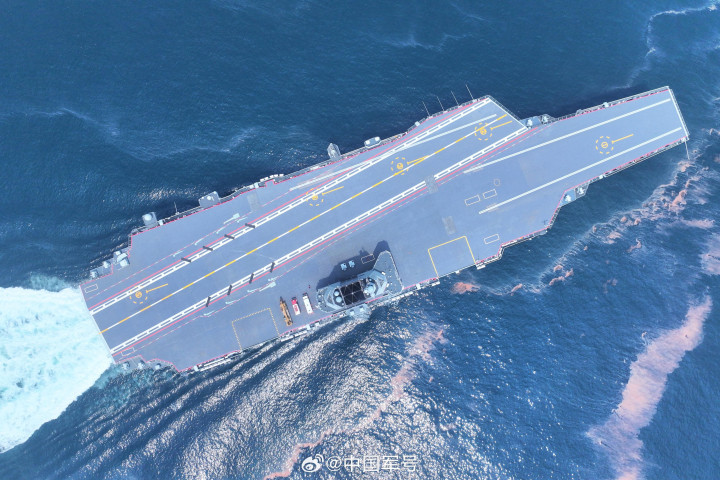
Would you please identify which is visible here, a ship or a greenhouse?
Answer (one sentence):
Looking from above, you can make out a ship.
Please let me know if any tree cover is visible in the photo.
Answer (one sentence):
No, the picture contains no tree cover.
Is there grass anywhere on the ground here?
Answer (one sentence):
No, grass can't be seen anywhere here.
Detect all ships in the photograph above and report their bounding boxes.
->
[80,86,689,375]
